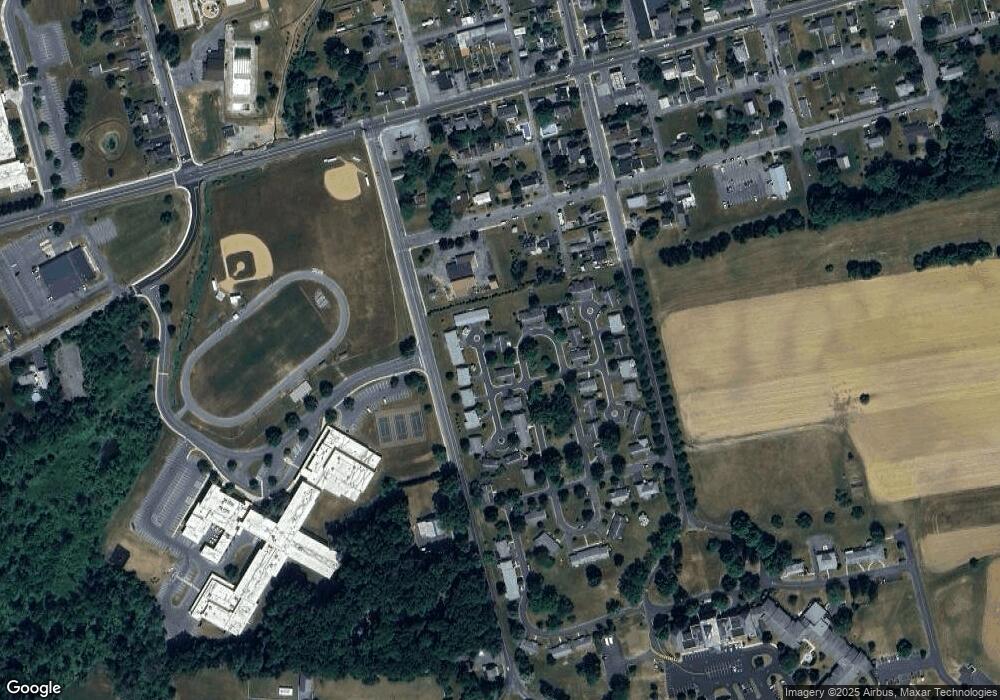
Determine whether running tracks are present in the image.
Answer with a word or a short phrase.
Yes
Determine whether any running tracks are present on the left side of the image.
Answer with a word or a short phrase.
Yes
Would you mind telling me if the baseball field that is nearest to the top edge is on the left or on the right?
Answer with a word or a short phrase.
left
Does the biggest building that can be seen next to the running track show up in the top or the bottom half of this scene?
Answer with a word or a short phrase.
bottom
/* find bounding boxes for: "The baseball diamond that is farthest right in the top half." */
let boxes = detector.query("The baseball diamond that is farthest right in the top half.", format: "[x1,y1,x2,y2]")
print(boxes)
[324,159,360,200]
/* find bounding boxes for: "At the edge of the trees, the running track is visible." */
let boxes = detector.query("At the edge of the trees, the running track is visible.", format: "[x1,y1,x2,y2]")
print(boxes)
[182,269,349,427]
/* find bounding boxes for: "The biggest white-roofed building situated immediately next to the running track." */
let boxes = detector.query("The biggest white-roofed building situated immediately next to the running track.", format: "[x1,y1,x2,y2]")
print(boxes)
[183,425,382,636]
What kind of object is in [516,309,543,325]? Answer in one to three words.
house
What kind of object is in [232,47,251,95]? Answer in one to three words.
swimming pool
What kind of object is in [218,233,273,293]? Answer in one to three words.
baseball field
